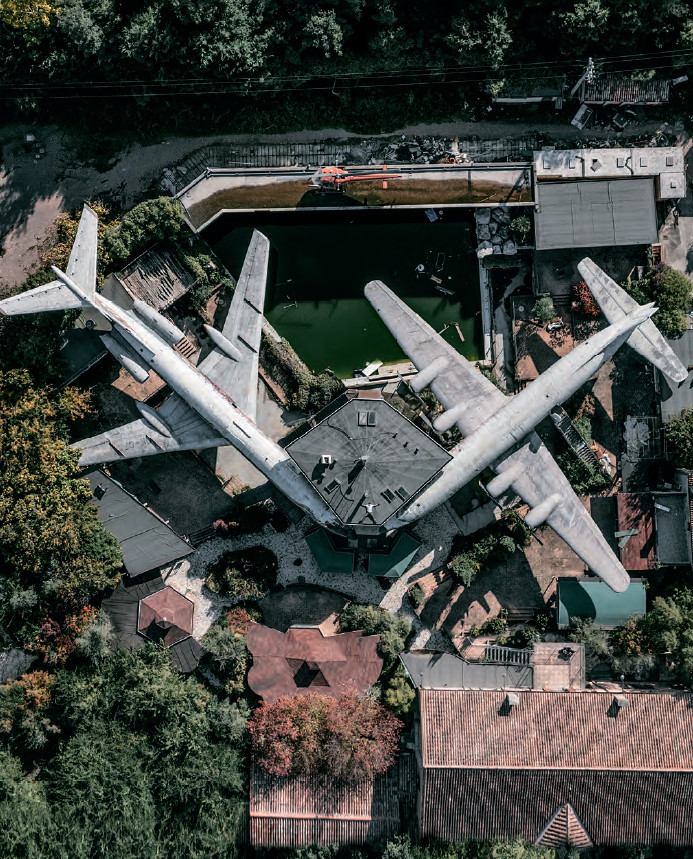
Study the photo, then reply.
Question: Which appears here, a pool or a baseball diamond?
pool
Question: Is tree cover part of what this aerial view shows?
Yes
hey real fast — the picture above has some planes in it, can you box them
[0,205,351,534]
[368,259,687,586]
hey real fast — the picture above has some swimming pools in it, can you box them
[196,209,487,395]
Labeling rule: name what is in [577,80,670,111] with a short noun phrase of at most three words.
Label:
shed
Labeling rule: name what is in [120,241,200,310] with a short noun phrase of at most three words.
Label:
shed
